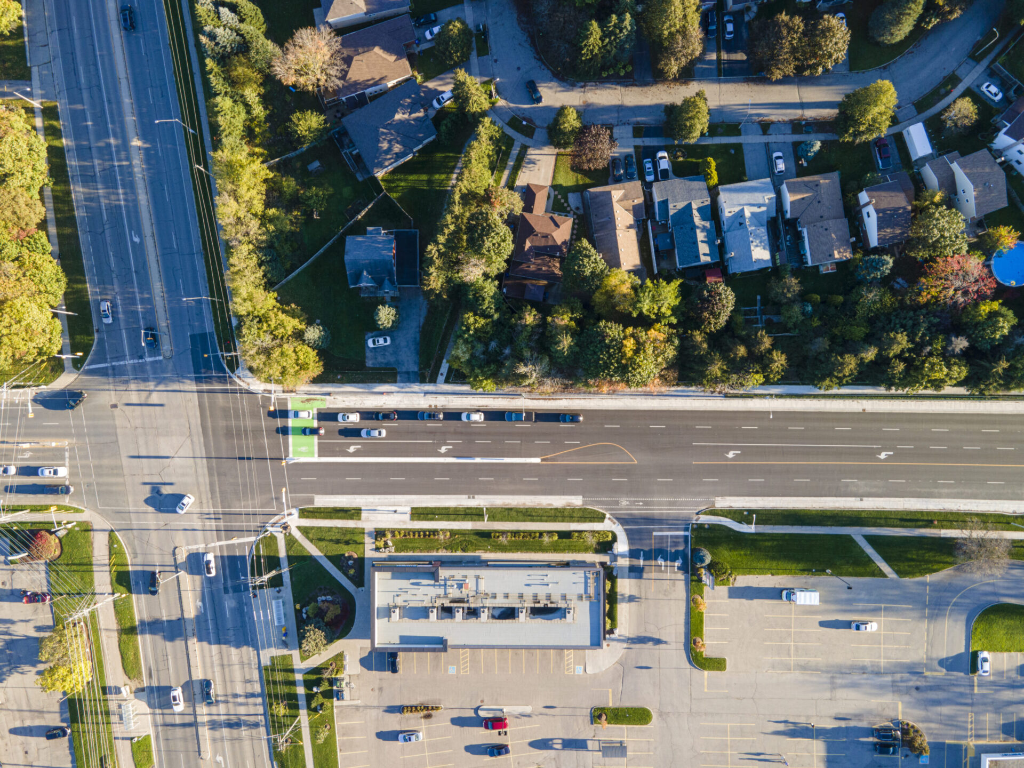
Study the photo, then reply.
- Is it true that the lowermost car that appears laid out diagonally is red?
No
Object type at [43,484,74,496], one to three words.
vehicle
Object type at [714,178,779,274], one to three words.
house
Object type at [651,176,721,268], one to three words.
house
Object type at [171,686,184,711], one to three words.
vehicle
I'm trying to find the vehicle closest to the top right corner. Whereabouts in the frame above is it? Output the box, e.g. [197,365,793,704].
[979,80,1003,102]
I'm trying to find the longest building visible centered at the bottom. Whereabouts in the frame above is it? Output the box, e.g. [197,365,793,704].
[371,555,606,652]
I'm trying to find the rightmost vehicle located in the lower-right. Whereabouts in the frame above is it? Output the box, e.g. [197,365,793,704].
[977,650,991,675]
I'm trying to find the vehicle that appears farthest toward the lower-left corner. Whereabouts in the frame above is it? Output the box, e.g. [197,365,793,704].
[45,726,71,739]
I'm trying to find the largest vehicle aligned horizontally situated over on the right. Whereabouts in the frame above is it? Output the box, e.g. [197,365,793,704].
[781,589,820,605]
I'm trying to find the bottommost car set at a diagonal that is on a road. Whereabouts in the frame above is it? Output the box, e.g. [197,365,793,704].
[175,491,195,515]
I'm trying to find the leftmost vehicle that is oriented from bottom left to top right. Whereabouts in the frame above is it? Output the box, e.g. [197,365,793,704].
[66,389,90,411]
